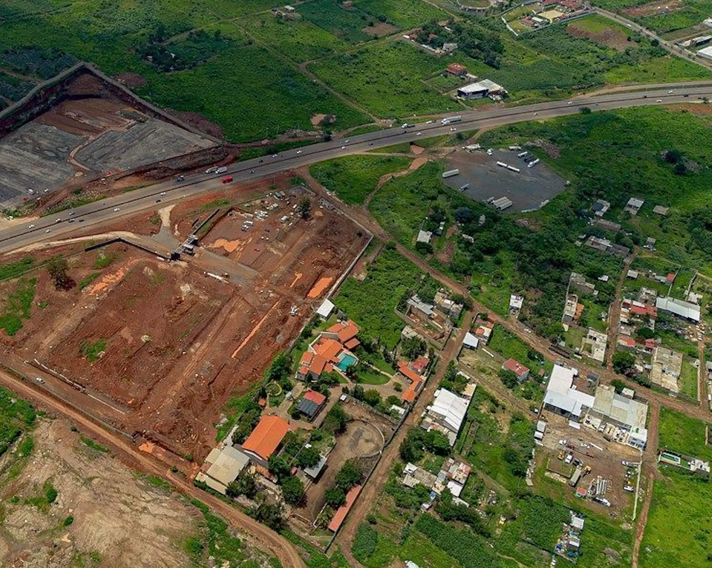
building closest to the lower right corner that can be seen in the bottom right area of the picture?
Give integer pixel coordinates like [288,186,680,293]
[690,459,710,483]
